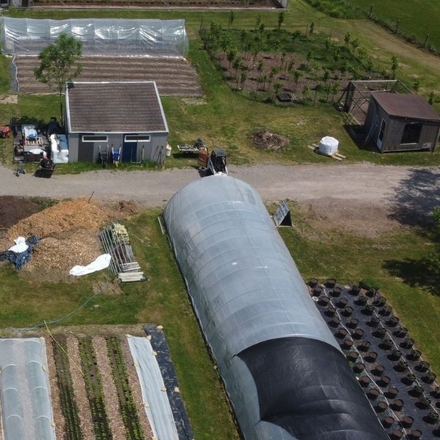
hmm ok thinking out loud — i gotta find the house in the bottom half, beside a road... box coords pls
[159,170,344,440]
